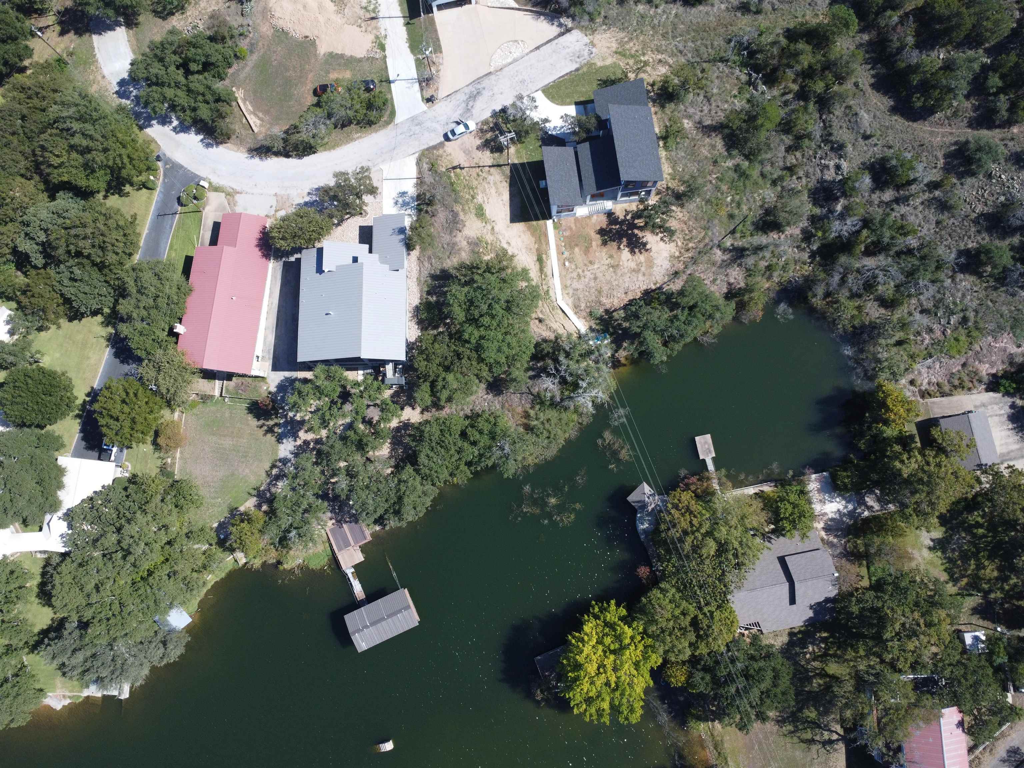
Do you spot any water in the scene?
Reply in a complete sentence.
Yes, water can be seen from above here.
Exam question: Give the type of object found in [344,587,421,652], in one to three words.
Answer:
building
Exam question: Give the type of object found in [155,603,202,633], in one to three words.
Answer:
shed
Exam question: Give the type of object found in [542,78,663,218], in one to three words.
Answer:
house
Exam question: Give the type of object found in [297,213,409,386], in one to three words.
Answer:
house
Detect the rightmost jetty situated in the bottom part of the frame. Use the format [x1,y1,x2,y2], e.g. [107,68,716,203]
[695,434,724,497]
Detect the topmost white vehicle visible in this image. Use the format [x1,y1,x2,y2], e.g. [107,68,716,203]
[445,119,475,140]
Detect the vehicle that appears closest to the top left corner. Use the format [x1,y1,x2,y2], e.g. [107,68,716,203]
[315,81,340,96]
